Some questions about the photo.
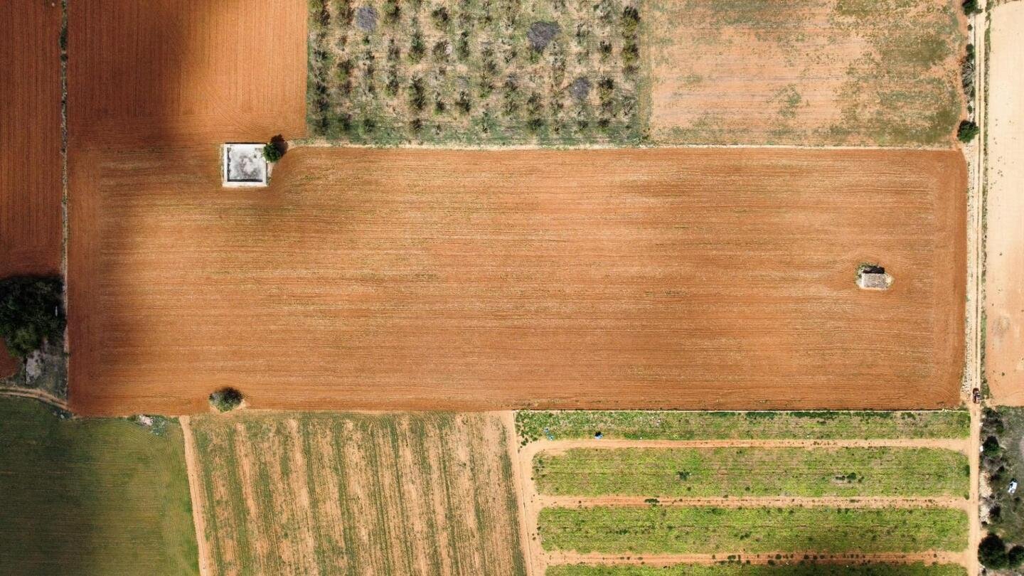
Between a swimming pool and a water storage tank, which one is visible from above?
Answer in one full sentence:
Looking from above, you can make out a water storage tank.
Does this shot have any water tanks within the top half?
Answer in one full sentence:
Yes, a water tank is visible within the top half.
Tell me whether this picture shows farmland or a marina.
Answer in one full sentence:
It's farmland.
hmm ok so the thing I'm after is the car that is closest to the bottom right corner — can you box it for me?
[1006,480,1019,495]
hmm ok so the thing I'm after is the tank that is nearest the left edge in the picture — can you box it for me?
[221,145,267,189]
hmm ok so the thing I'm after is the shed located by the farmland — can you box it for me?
[860,272,888,289]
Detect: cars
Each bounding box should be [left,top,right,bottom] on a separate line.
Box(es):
[972,388,982,404]
[1006,480,1019,495]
